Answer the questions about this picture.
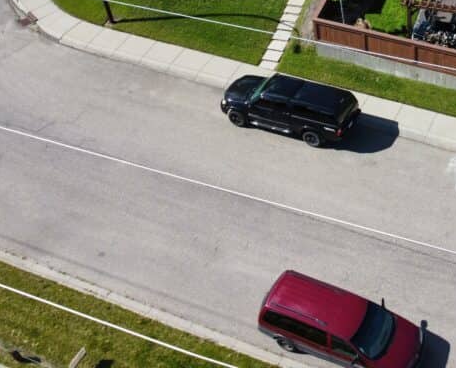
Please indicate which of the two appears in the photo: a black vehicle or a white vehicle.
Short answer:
black vehicle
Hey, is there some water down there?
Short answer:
No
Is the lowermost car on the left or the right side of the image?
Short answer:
right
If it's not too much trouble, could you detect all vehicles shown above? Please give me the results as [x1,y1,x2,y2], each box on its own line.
[252,267,436,368]
[217,69,366,147]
